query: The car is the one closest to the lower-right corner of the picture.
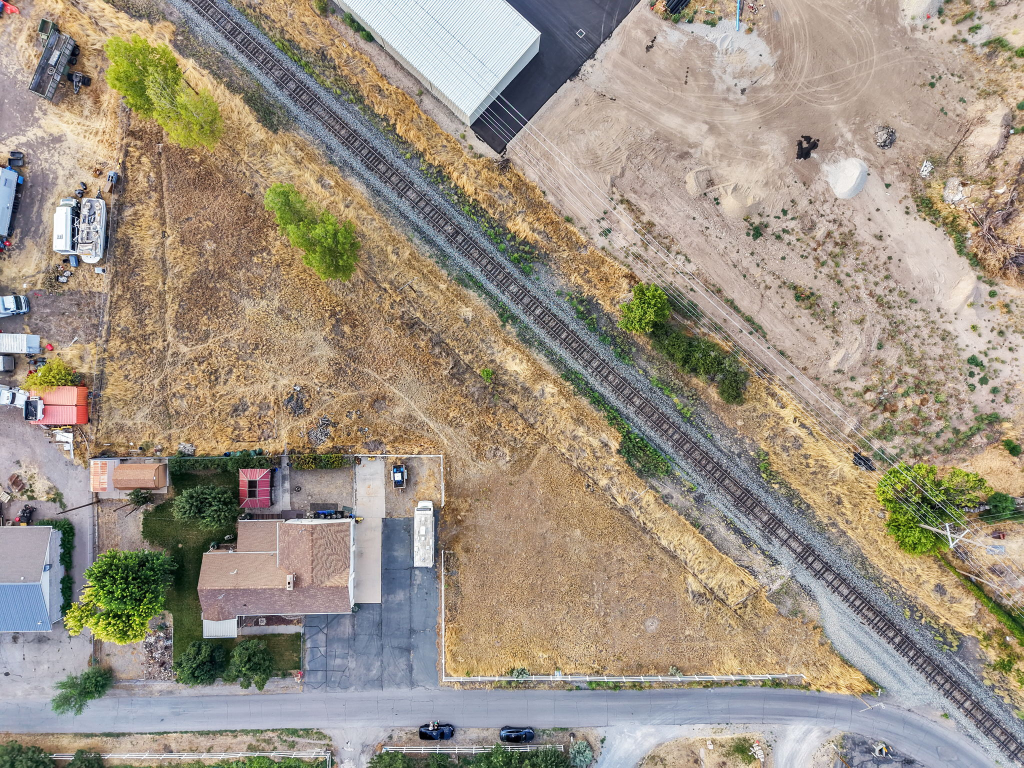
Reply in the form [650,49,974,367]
[500,724,534,744]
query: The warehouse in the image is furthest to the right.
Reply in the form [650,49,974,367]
[334,0,543,126]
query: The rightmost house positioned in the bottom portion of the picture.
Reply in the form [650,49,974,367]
[198,516,358,639]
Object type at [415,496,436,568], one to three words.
camper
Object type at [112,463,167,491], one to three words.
shed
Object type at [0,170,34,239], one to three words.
trailer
